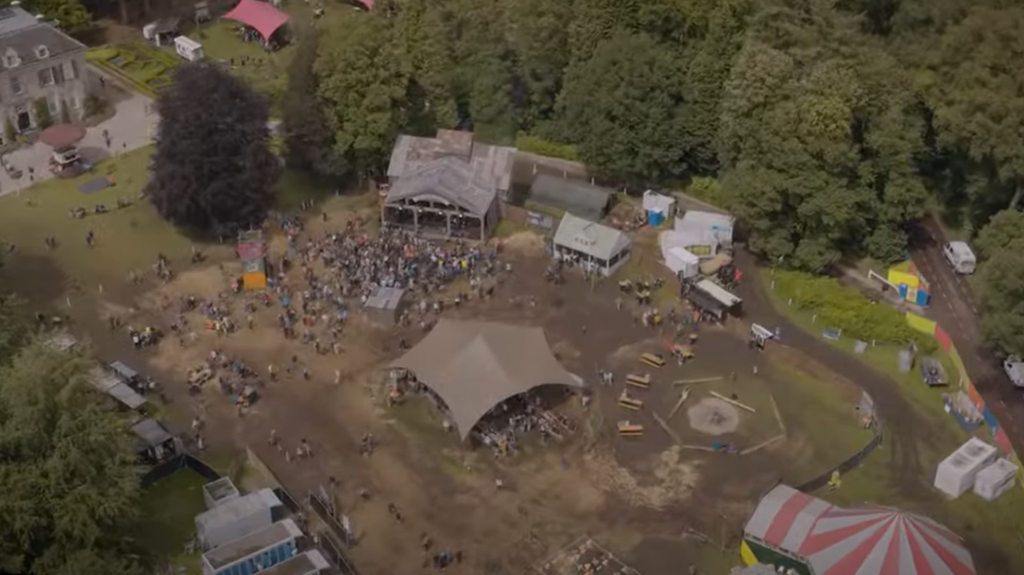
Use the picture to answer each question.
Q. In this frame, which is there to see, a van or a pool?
van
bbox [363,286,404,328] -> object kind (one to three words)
shed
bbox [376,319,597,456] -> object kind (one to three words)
tent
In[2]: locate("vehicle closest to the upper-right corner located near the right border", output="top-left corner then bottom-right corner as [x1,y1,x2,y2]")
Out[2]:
[942,244,976,274]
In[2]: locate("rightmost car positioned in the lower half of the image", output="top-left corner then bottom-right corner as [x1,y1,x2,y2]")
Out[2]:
[1002,361,1024,386]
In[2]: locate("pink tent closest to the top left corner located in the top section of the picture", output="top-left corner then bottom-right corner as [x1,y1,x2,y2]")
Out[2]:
[219,0,292,55]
